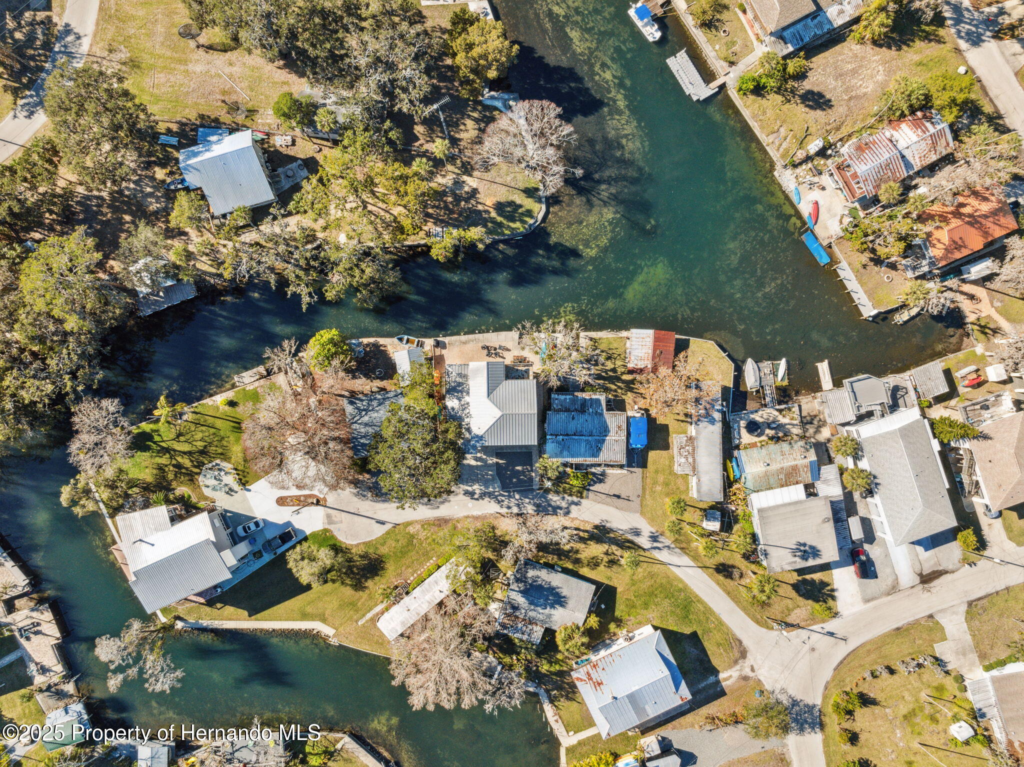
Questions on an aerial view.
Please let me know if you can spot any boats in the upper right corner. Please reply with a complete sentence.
Yes, the scene does show a boat in the upper right corner.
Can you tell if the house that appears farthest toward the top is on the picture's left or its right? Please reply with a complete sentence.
The house that appears farthest toward the top appears in the right half of the scene.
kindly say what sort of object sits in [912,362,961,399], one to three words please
building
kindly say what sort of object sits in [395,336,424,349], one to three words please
boat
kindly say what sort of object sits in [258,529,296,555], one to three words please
truck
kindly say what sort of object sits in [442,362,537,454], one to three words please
house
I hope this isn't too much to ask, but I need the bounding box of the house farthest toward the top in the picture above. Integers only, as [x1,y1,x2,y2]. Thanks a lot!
[739,0,872,57]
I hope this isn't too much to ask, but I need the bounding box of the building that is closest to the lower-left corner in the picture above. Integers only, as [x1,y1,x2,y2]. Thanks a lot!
[42,712,94,752]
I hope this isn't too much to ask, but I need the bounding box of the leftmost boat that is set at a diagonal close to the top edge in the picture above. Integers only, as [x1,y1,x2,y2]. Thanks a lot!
[626,0,660,43]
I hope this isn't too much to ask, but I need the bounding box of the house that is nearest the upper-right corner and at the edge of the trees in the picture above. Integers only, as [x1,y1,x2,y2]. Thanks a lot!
[876,109,954,175]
